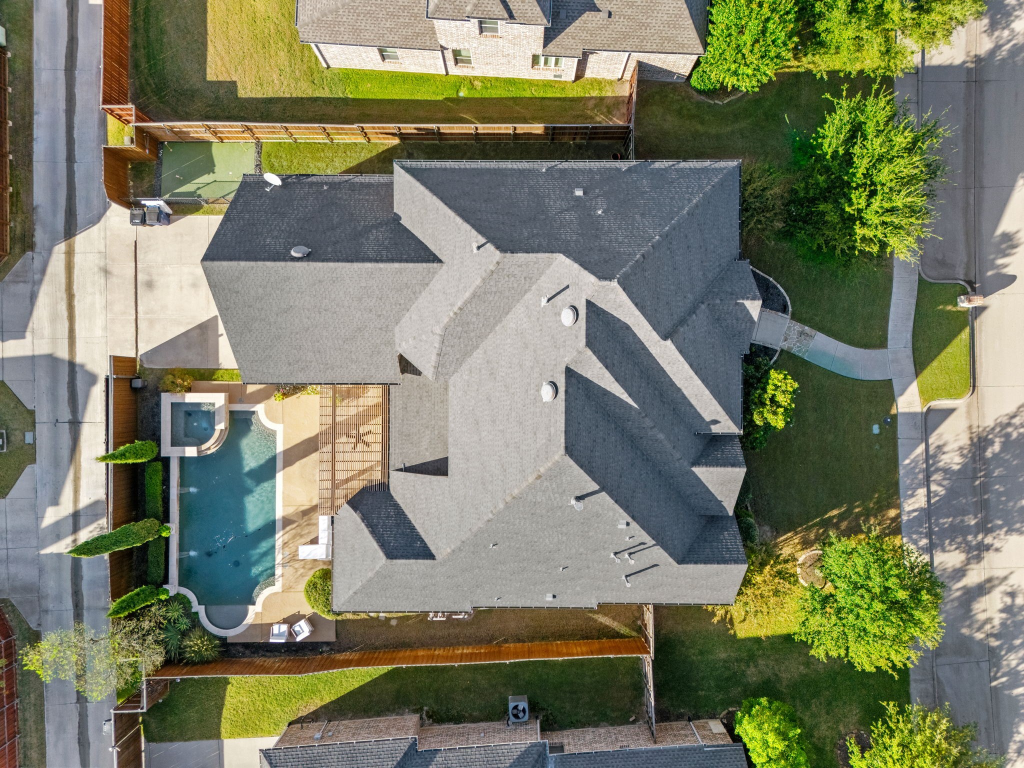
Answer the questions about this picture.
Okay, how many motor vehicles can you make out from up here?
none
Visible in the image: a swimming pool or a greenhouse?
swimming pool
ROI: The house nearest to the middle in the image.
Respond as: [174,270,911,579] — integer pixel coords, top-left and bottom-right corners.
[200,157,761,619]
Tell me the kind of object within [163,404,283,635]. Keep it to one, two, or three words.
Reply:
swimming pool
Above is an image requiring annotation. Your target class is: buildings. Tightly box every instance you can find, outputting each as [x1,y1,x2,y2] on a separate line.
[293,0,712,89]
[200,157,761,619]
[255,715,745,768]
